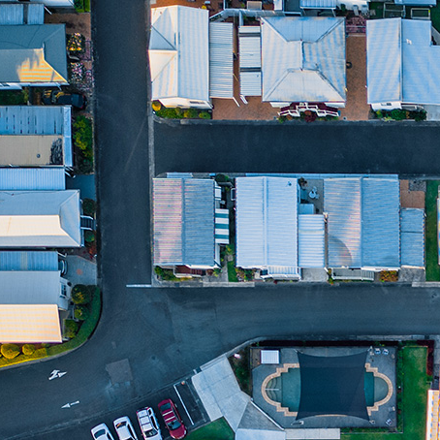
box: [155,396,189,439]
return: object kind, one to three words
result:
car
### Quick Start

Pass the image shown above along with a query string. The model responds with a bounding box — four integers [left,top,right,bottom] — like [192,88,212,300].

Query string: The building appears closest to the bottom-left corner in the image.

[0,271,70,343]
